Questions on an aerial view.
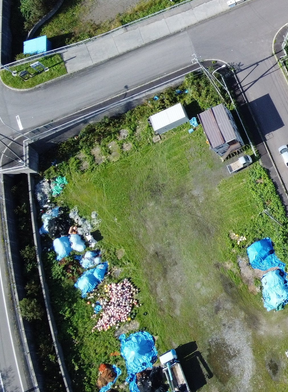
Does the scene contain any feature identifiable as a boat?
No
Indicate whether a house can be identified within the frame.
Yes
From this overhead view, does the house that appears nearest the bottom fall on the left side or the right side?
right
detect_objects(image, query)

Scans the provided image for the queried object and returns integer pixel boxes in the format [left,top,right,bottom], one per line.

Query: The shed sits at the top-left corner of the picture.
[22,36,54,60]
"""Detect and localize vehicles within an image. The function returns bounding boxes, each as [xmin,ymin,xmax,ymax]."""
[279,144,288,169]
[157,352,189,392]
[228,154,251,171]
